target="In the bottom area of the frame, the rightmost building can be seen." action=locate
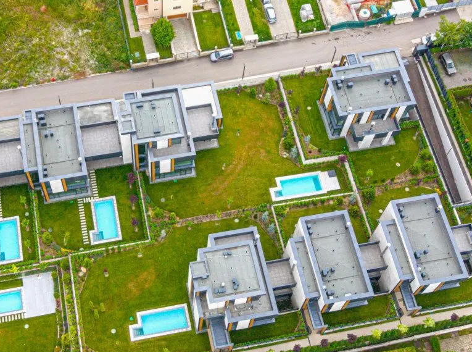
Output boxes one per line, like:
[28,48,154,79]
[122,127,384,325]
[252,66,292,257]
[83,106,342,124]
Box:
[370,193,472,313]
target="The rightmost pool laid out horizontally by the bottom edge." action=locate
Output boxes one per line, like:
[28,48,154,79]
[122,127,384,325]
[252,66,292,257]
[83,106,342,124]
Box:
[128,303,191,342]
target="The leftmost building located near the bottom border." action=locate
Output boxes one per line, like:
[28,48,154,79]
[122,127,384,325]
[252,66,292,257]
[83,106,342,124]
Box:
[190,227,296,352]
